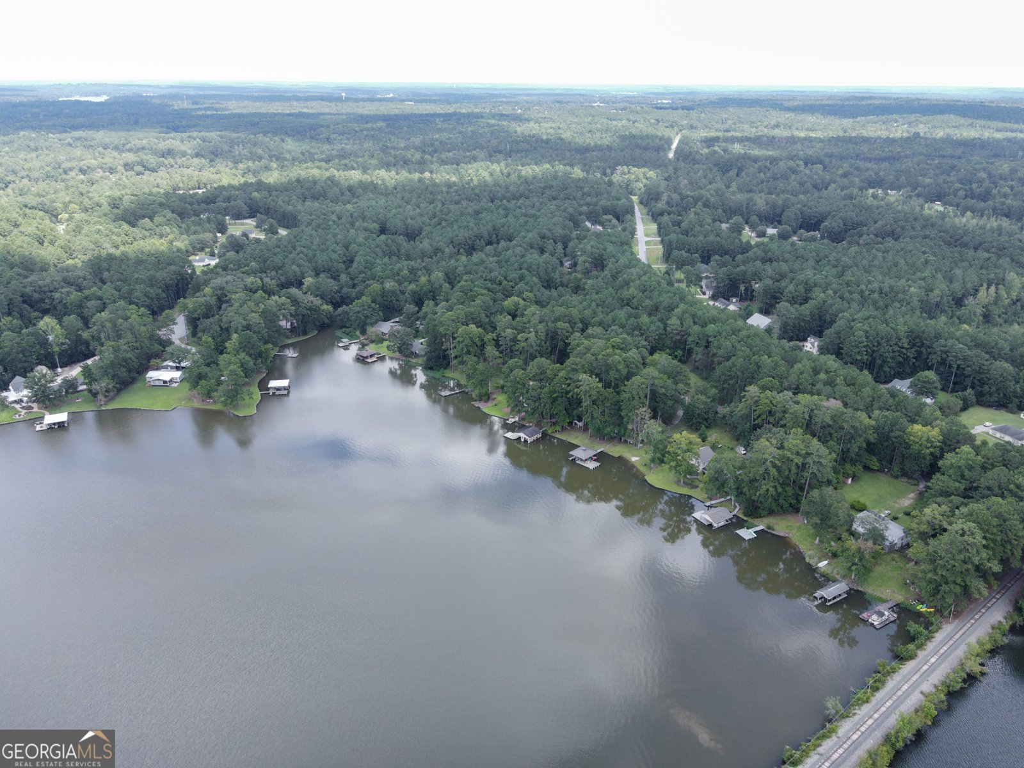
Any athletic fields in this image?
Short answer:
No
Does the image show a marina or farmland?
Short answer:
marina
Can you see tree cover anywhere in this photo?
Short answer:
Yes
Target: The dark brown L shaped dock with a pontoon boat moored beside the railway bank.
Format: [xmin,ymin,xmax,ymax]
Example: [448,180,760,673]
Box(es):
[859,599,900,631]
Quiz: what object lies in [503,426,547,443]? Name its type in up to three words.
building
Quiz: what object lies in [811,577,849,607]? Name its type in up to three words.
building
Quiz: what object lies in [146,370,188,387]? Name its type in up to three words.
house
